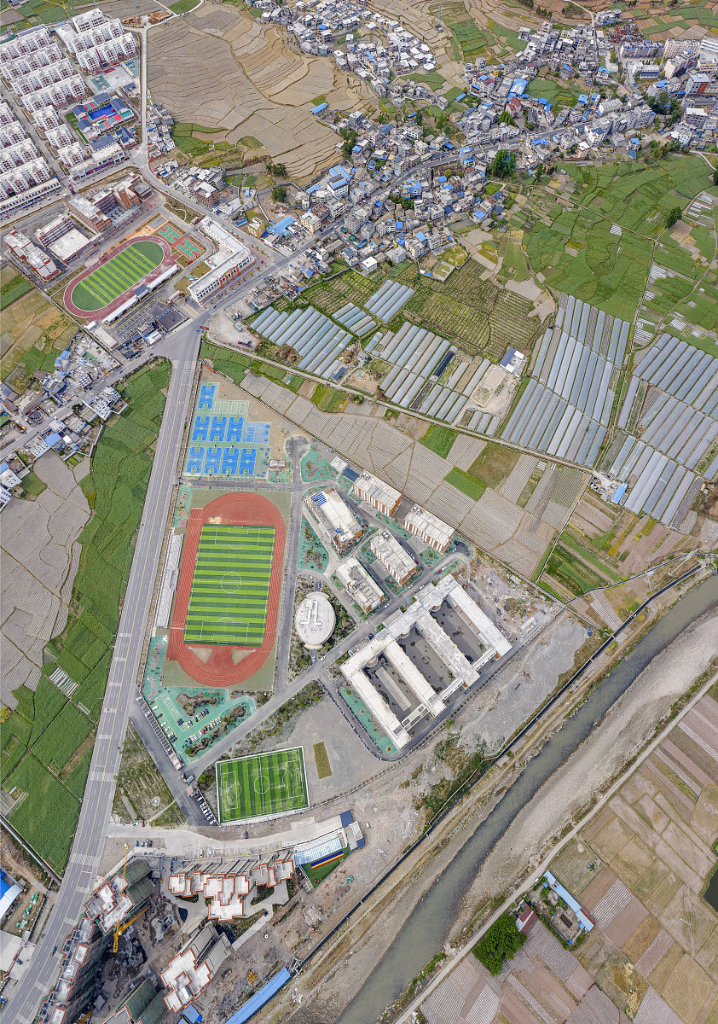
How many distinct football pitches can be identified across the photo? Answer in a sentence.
The count of football pitches comes to 3.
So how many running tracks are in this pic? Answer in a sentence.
The number of running tracks here is 2.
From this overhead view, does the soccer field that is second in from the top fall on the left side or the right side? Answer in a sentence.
The soccer field that is second in from the top is on the left side of the image.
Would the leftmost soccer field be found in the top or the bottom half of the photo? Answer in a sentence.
Seen from above, the leftmost soccer field lies in the top half of the view.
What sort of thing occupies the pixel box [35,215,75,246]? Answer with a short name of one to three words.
building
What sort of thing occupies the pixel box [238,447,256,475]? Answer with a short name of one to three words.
basketball court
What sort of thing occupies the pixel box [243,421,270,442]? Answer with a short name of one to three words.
sports court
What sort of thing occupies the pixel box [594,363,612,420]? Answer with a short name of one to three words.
greenhouse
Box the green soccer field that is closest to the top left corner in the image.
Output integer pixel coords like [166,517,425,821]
[72,240,163,310]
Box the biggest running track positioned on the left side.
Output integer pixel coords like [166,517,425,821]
[159,489,292,689]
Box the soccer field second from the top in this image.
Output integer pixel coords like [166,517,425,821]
[182,523,276,647]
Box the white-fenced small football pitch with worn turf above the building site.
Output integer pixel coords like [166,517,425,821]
[213,744,312,827]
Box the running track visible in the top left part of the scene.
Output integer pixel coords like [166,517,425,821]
[63,234,178,319]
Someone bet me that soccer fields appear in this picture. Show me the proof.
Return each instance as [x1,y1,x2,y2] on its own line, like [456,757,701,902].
[72,240,163,310]
[213,744,312,827]
[182,523,276,647]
